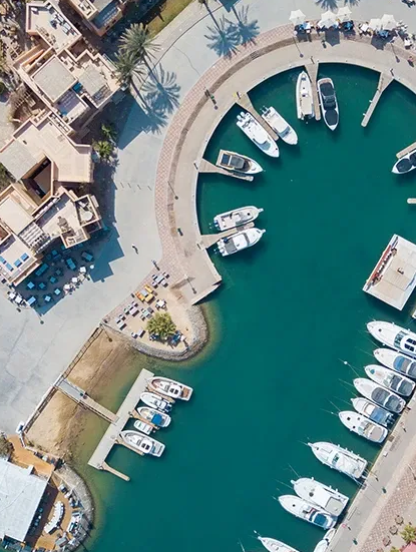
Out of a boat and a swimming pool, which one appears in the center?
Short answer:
boat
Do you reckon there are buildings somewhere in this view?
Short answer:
Yes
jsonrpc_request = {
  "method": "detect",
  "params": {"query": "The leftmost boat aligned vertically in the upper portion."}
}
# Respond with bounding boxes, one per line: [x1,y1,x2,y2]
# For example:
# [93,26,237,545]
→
[293,70,313,124]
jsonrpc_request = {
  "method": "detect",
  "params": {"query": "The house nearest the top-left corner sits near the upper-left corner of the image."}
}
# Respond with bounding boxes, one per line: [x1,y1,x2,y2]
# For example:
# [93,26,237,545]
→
[28,0,87,57]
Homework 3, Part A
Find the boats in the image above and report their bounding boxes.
[341,394,404,428]
[134,421,159,436]
[316,78,338,131]
[141,394,176,413]
[121,432,168,457]
[351,360,415,402]
[261,108,297,145]
[138,406,173,428]
[293,433,379,488]
[146,377,194,403]
[323,526,335,539]
[312,394,396,447]
[261,481,344,537]
[390,145,416,174]
[340,368,413,416]
[356,316,416,356]
[354,338,416,381]
[275,468,355,519]
[293,70,313,124]
[212,206,263,229]
[253,528,306,552]
[218,151,262,175]
[215,230,265,255]
[236,117,279,158]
